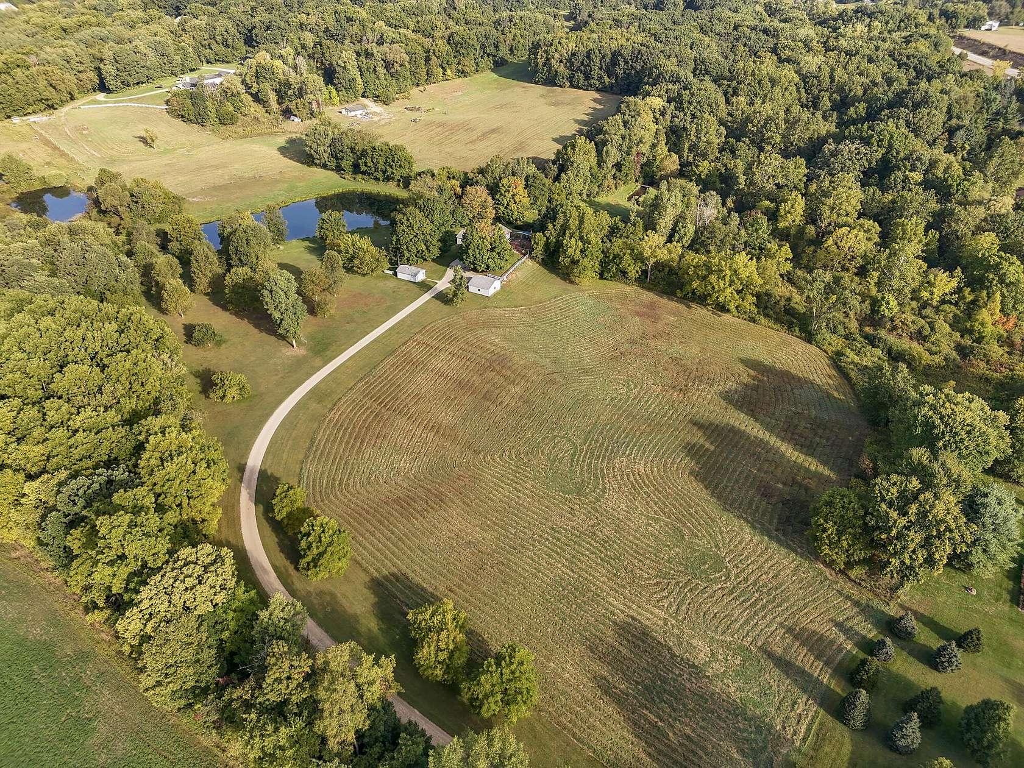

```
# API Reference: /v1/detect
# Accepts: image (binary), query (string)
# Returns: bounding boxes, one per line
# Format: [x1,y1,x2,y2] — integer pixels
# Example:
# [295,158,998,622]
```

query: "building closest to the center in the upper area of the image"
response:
[467,275,502,296]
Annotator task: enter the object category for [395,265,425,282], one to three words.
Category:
shed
